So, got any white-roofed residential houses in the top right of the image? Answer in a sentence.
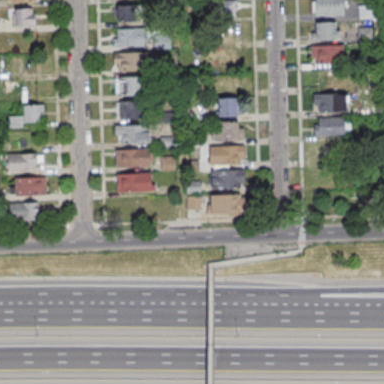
Yes, a white-roofed residential house appears in the top right of the image.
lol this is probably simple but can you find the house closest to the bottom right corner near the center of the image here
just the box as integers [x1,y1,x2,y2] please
[210,193,244,218]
